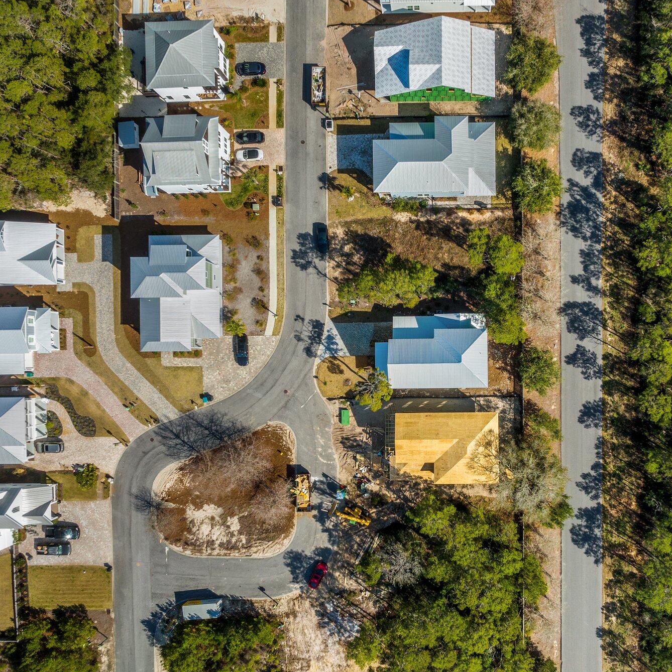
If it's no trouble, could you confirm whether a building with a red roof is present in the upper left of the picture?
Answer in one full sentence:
No, looking in the upper left of the picture, there is no building with a red roof.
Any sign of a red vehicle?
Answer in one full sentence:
Yes, the frame does contain a red vehicle.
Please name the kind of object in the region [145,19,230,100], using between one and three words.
house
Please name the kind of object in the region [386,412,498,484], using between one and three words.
house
